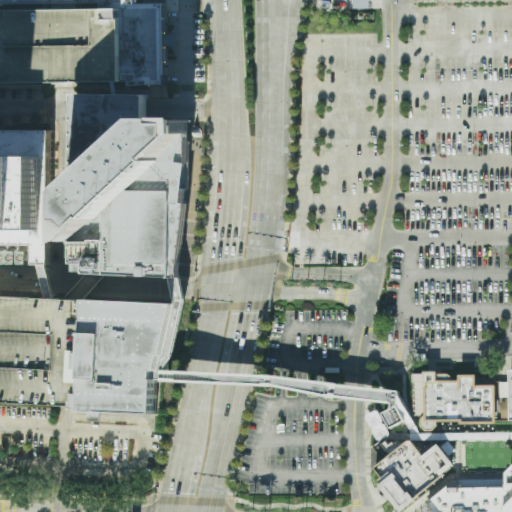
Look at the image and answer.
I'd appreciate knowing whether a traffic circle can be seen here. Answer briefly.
No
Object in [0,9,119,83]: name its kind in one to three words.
building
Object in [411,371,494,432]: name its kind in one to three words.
building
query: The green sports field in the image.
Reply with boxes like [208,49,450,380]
[465,441,512,469]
